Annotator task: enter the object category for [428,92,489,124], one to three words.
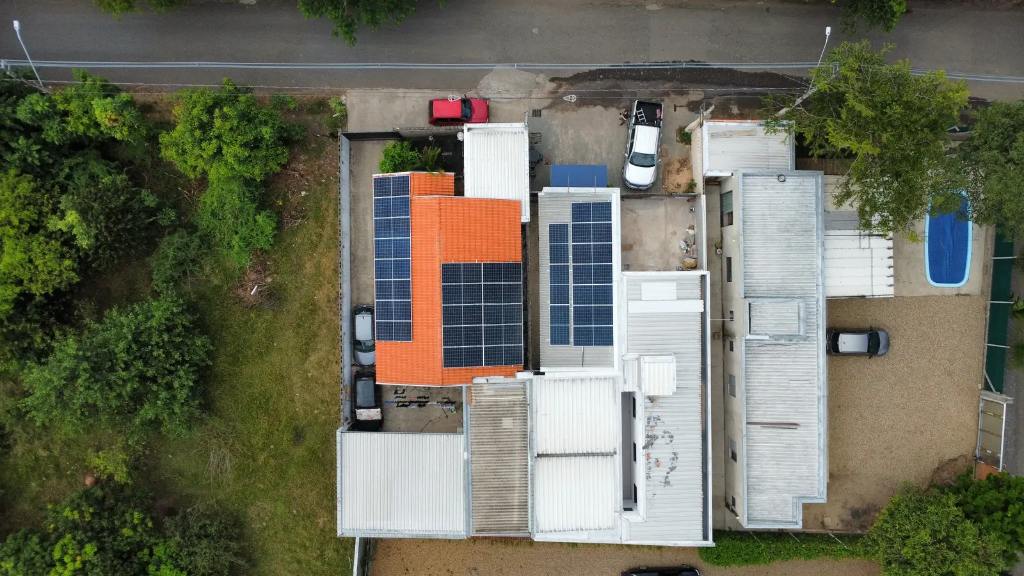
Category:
car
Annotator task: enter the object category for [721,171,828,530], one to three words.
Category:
house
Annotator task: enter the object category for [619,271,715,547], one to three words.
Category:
house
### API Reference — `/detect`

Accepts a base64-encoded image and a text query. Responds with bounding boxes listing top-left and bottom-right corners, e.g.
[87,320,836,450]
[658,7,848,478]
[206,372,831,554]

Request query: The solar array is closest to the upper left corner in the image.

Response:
[374,173,412,343]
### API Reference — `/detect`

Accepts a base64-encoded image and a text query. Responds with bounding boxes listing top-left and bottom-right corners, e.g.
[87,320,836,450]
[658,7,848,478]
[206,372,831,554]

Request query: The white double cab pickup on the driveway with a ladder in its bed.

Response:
[625,100,664,188]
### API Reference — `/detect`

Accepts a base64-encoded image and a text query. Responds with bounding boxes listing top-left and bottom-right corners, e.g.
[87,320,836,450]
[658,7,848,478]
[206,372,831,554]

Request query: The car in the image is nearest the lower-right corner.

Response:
[825,326,890,361]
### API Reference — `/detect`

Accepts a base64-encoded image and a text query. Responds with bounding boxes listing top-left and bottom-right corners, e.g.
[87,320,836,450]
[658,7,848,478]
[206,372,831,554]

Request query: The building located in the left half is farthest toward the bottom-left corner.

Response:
[336,424,467,538]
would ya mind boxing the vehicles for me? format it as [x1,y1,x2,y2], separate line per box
[351,304,376,367]
[428,92,489,124]
[825,326,890,361]
[352,370,384,428]
[625,100,664,188]
[622,562,699,576]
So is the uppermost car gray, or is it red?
red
